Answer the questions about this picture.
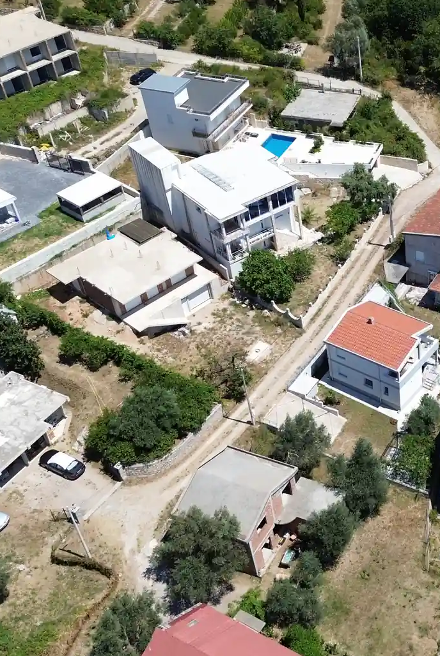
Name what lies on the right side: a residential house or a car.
residential house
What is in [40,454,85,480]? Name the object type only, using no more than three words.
car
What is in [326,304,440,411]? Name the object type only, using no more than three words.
house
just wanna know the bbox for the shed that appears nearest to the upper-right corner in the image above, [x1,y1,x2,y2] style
[281,90,370,135]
